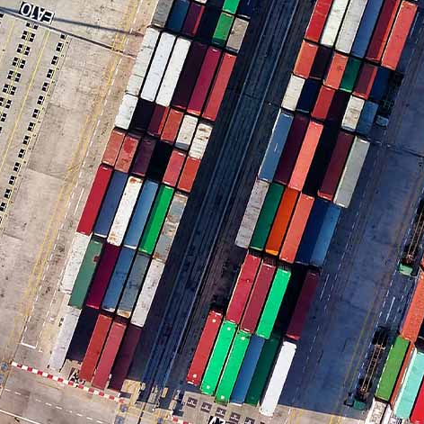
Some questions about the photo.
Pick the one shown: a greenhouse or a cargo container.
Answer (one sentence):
This aerial view contains a cargo container.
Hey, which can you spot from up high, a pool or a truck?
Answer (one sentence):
The one in the frame is a truck.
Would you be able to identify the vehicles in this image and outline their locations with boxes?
[374,47,415,131]
[351,338,392,423]
[399,200,424,281]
